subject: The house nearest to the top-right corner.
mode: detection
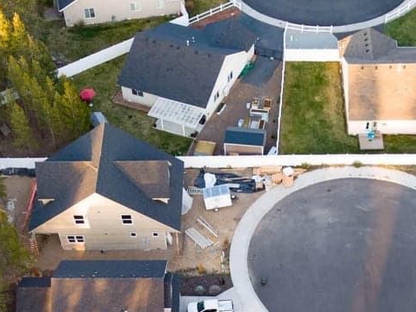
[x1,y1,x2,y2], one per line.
[336,13,416,148]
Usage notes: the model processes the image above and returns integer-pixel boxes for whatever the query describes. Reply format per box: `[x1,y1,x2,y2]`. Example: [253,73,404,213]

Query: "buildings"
[336,13,416,148]
[29,121,185,250]
[117,15,257,138]
[56,0,183,25]
[226,128,264,158]
[15,260,181,312]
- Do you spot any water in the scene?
No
